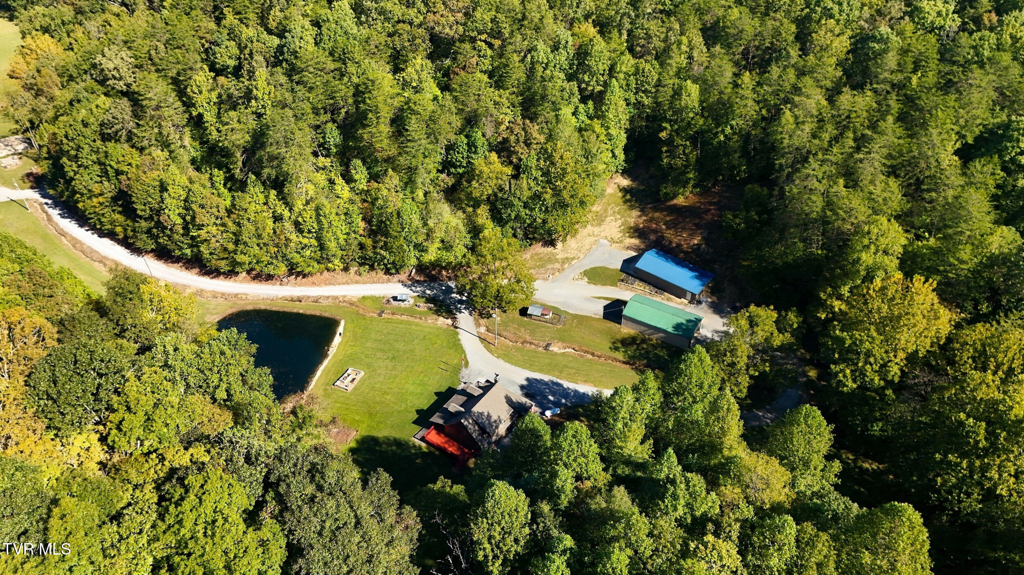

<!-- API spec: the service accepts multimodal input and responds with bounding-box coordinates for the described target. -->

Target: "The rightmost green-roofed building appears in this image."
[620,293,704,347]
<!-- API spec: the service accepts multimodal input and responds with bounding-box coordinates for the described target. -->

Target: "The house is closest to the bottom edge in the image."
[424,373,535,472]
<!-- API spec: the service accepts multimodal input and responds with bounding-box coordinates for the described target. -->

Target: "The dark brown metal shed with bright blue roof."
[635,248,717,305]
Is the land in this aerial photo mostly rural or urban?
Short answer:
rural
